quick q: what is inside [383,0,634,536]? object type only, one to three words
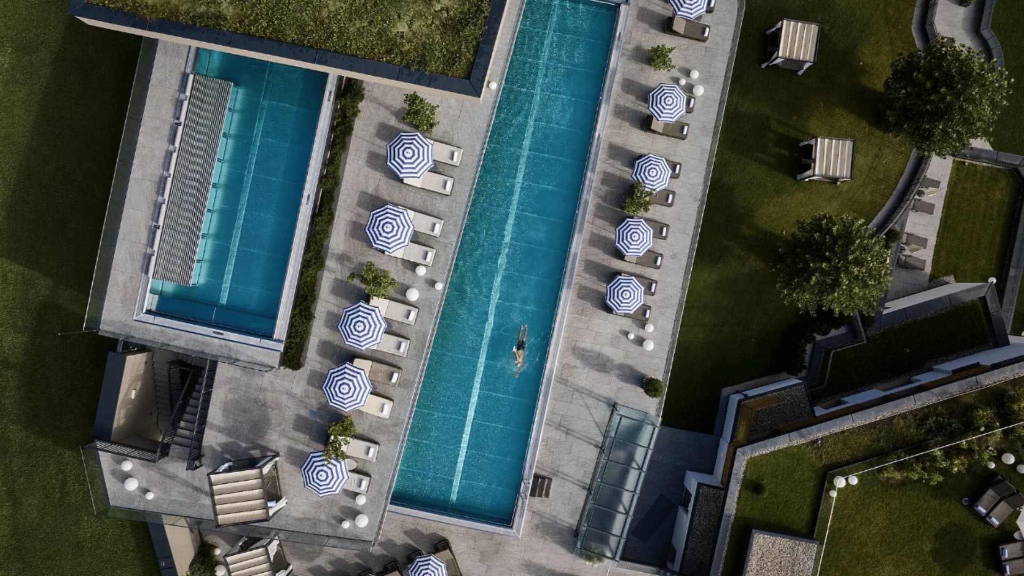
swimming pool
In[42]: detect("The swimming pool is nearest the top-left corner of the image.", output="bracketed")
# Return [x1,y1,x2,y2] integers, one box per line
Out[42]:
[132,44,339,351]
